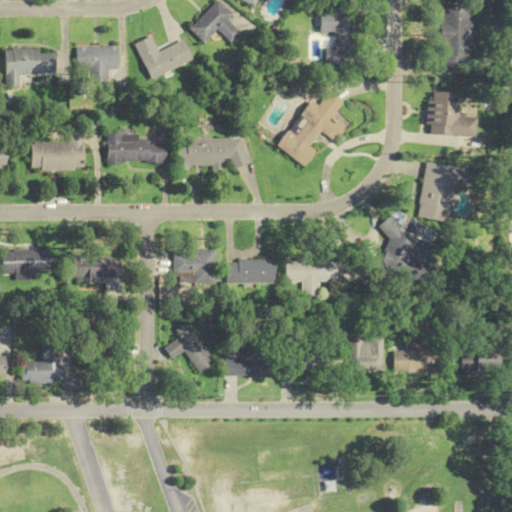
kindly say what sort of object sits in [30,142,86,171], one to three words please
house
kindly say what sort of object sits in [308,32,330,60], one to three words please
swimming pool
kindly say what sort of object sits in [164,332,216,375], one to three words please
house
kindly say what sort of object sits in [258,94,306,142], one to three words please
swimming pool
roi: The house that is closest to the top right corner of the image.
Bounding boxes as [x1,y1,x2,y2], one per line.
[441,8,472,62]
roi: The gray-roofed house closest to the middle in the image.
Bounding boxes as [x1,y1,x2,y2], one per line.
[228,258,277,284]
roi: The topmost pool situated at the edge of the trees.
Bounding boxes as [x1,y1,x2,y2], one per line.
[262,0,283,22]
